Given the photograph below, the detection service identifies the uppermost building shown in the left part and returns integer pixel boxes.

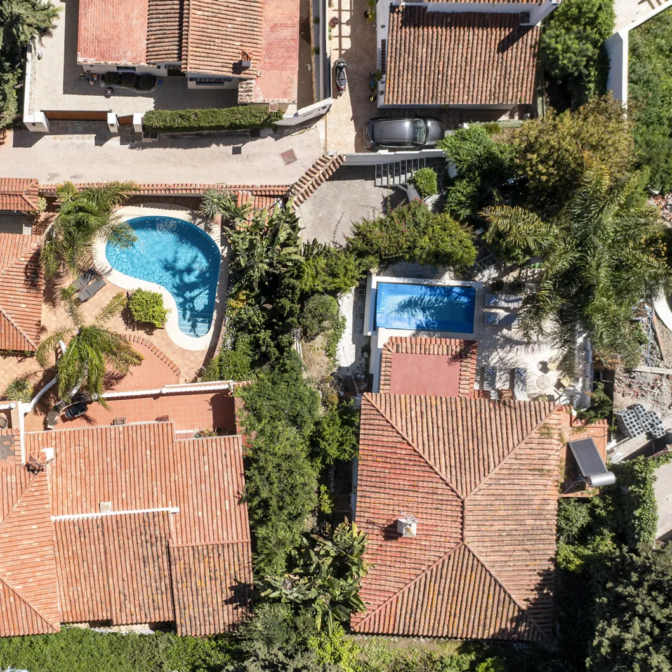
[76,0,300,109]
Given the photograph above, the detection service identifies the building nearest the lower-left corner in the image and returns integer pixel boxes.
[0,419,255,638]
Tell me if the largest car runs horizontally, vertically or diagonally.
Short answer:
horizontally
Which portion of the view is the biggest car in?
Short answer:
top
